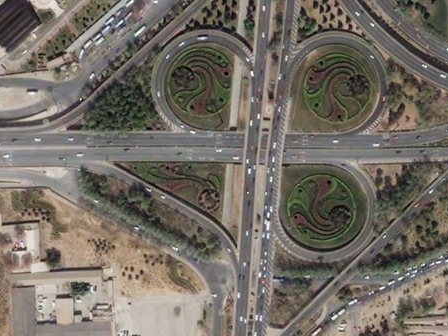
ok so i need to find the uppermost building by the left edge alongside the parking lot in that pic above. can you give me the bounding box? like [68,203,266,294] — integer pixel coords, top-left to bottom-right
[12,267,103,281]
